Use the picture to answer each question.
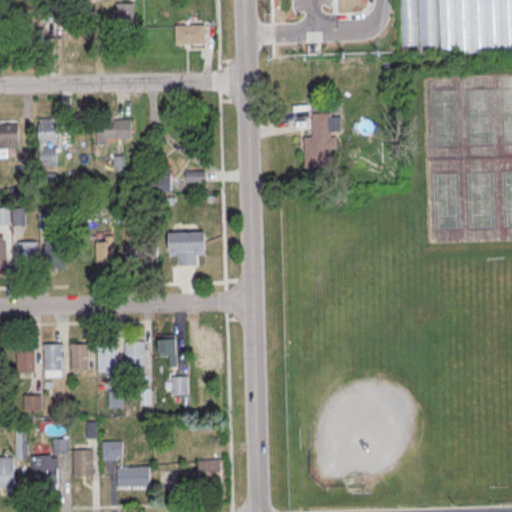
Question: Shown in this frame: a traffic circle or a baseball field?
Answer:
baseball field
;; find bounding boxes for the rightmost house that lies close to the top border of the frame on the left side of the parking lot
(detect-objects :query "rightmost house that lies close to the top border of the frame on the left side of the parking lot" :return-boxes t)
[175,25,204,48]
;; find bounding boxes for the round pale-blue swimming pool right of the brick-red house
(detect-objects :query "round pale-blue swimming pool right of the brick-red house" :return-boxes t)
[356,118,374,136]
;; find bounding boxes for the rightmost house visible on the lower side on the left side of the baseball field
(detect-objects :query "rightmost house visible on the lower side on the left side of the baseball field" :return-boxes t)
[198,460,221,482]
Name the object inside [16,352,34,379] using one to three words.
house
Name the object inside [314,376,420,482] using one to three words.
baseball field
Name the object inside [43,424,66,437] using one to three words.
swimming pool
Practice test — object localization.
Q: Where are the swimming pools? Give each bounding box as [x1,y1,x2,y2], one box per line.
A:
[356,118,374,136]
[43,424,66,437]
